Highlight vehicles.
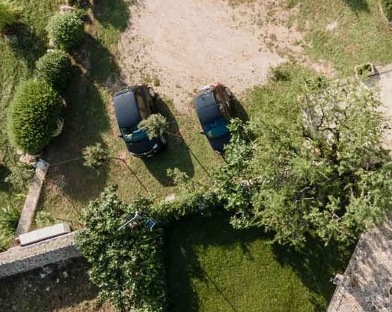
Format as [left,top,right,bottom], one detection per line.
[118,87,164,162]
[195,86,236,157]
